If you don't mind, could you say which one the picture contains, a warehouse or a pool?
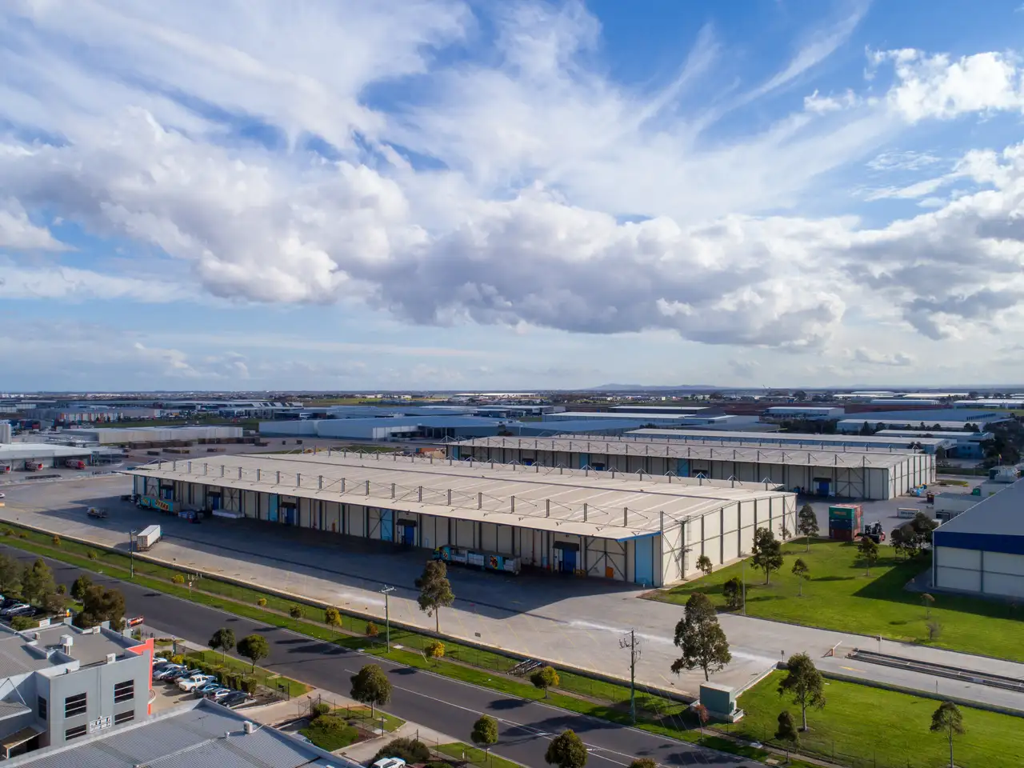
warehouse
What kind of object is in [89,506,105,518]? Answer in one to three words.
vehicle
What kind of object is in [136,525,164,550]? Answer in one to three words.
vehicle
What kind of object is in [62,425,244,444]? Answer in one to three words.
shed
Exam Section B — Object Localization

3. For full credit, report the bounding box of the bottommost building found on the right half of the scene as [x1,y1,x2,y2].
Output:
[671,674,743,724]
